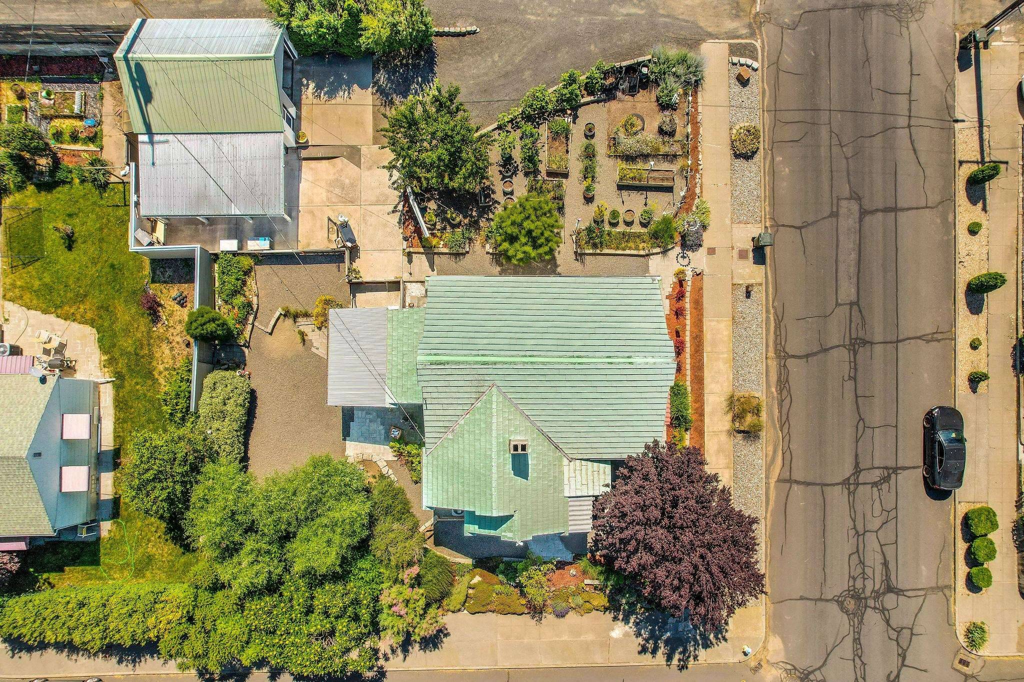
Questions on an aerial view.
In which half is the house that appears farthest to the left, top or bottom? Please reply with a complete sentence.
It is in the bottom half that the house that appears farthest to the left appears.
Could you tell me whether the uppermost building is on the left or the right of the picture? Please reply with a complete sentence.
The uppermost building sits on the left side.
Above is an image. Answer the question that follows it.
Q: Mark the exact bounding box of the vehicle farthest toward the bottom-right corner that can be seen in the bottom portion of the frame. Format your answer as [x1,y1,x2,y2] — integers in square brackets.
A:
[920,406,966,489]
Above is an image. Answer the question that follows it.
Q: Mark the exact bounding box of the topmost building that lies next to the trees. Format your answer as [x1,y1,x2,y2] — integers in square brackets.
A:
[114,18,298,146]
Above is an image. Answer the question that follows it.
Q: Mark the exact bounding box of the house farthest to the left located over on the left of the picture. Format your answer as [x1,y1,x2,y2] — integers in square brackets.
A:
[0,356,98,550]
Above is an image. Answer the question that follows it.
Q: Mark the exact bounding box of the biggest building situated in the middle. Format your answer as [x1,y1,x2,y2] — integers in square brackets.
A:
[328,274,680,545]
